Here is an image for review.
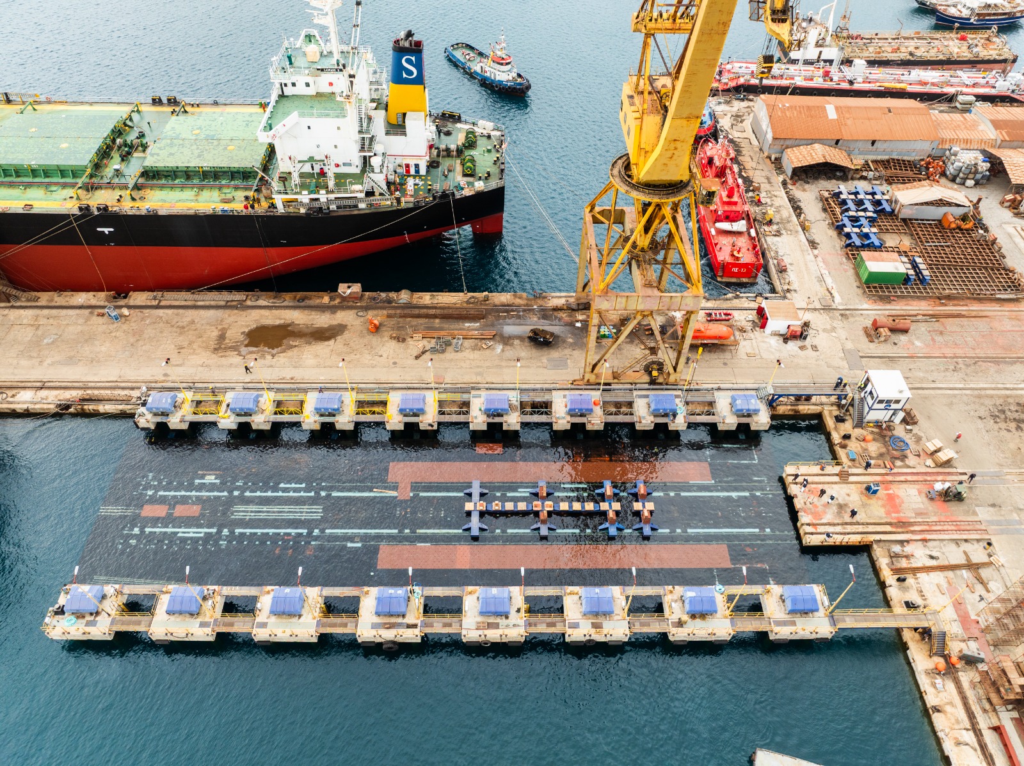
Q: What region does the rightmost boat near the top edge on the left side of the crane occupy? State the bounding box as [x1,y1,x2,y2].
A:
[441,17,530,99]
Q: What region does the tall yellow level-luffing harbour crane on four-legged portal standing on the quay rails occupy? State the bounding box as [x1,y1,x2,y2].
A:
[565,0,810,385]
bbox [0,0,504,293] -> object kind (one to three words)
ship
